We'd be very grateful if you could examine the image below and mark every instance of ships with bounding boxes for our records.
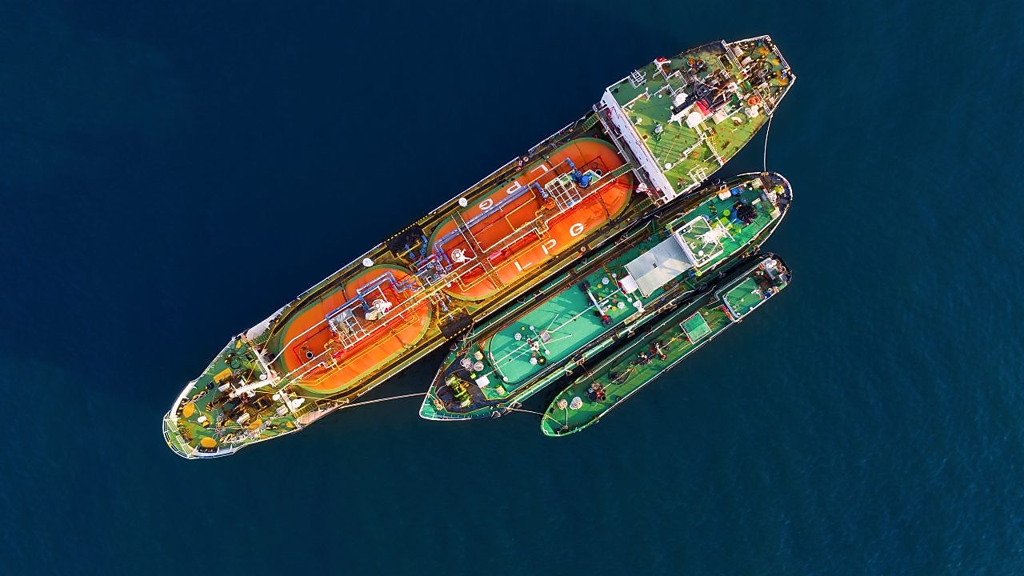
[419,171,795,423]
[159,32,799,461]
[541,251,794,437]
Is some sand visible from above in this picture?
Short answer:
No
